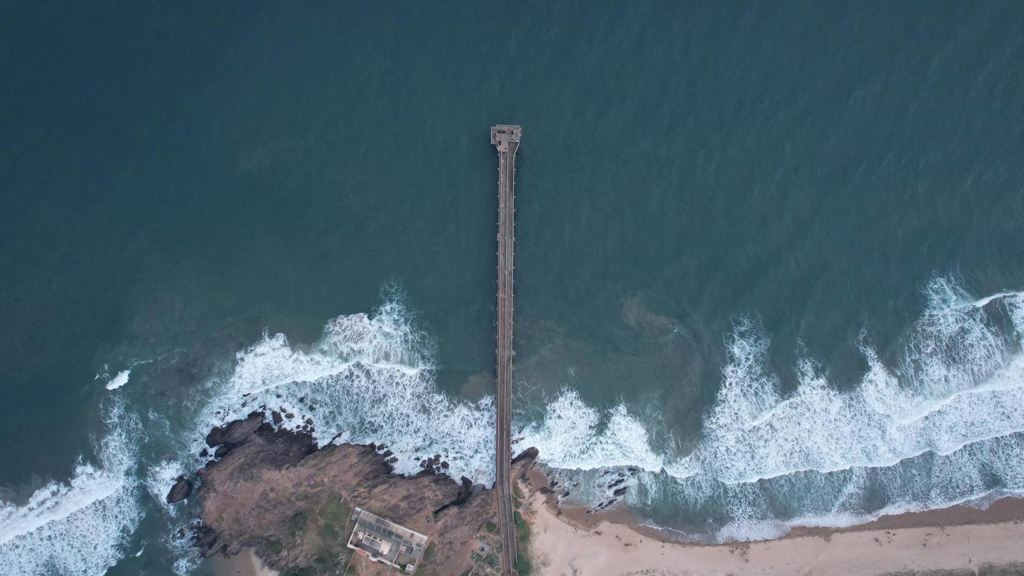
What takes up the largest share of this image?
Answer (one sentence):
What you mostly see from above here is water.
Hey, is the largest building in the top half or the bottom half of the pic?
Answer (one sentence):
You can find the largest building in the bottom half.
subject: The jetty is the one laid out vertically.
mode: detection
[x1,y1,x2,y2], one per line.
[491,125,522,576]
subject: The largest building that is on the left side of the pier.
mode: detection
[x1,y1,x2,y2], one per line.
[347,509,428,572]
